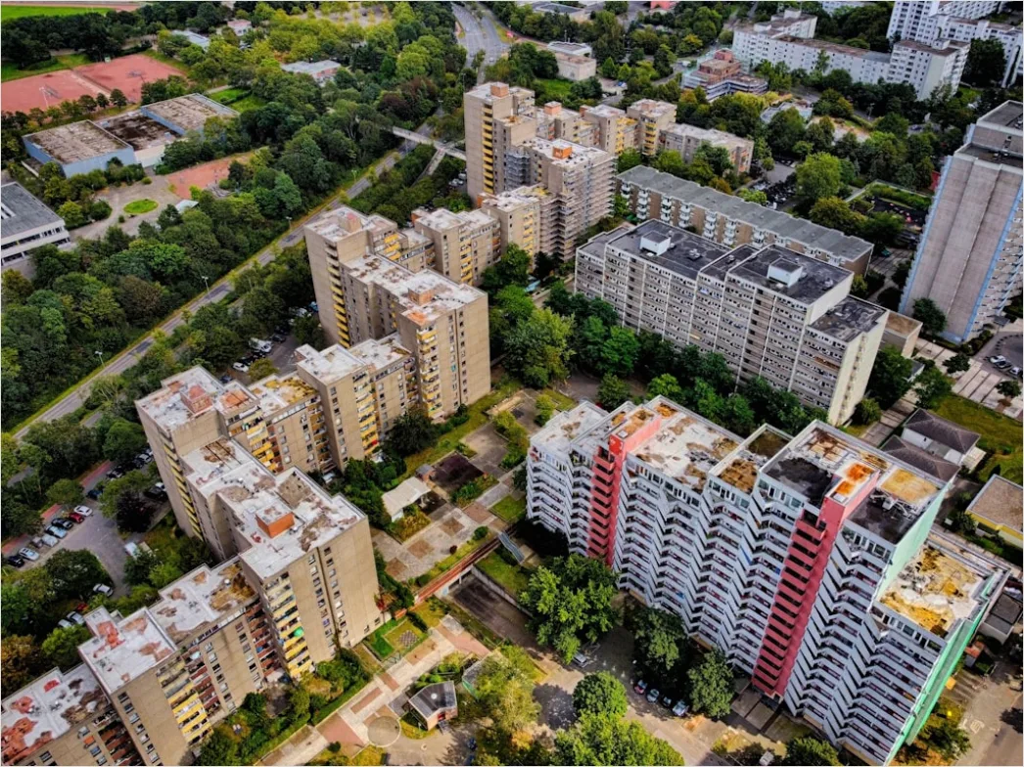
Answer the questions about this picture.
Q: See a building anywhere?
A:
Yes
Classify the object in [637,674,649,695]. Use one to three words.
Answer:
vehicle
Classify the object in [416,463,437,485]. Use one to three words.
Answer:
shed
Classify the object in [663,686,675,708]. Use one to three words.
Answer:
vehicle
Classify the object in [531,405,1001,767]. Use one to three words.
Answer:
building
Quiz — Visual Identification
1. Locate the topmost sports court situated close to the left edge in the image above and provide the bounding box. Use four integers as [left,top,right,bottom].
[0,54,187,105]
